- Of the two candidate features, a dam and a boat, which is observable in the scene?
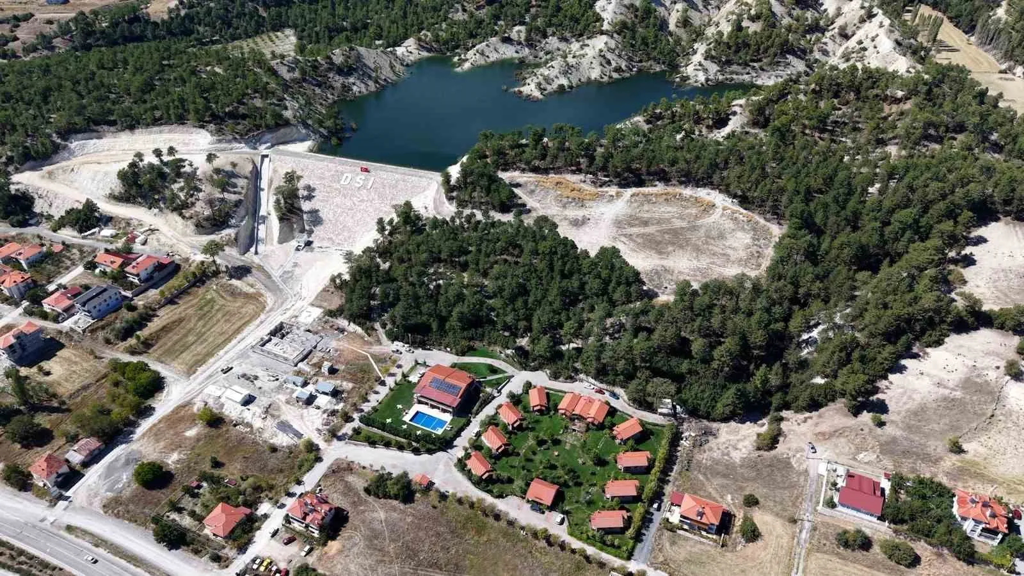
dam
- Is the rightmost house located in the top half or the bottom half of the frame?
bottom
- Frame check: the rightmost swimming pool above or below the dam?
below it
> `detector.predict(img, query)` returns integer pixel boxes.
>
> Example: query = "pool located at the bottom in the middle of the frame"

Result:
[405,402,452,436]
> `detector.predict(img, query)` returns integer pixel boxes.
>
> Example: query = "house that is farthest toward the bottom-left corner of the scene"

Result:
[33,457,74,495]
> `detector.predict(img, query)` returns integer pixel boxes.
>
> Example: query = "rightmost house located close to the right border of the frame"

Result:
[951,477,1008,552]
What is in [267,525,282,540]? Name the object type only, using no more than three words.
car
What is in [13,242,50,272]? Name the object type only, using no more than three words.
house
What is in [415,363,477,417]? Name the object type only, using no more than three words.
building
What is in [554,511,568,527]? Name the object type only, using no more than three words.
vehicle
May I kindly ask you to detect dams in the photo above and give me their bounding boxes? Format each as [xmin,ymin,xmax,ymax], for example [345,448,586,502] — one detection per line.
[270,154,438,250]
